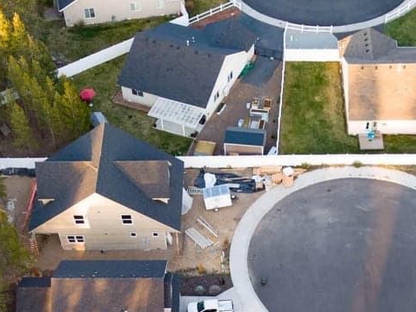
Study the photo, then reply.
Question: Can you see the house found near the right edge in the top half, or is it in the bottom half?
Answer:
top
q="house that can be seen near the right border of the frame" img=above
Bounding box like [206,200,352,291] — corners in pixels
[336,13,416,148]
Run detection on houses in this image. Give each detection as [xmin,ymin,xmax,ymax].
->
[117,15,257,138]
[56,0,183,25]
[29,121,185,250]
[336,13,416,148]
[15,260,181,312]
